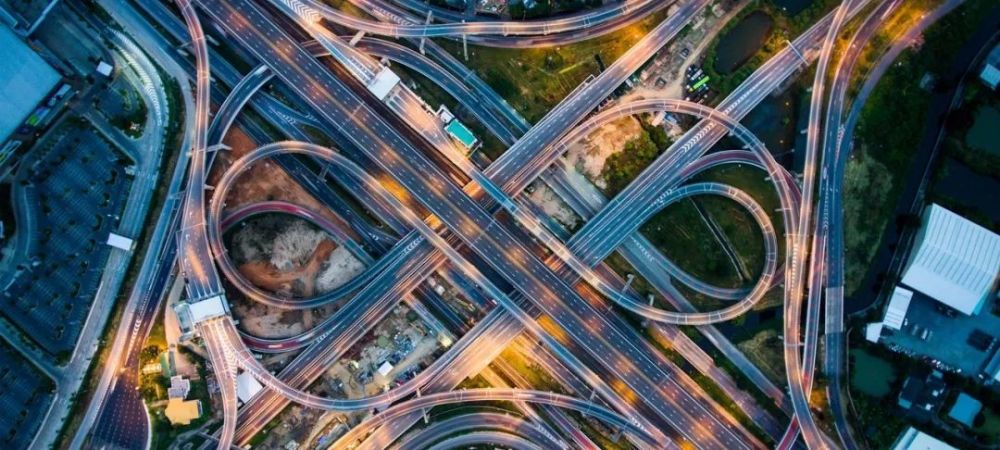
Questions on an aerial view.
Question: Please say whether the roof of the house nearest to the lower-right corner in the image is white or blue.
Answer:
blue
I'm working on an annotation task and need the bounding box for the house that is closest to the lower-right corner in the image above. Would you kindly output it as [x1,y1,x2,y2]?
[945,391,981,426]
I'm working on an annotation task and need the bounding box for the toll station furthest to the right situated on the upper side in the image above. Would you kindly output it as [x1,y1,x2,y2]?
[365,64,404,107]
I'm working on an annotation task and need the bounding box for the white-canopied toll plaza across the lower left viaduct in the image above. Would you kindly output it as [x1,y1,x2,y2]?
[190,288,231,327]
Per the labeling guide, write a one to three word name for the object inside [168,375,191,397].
house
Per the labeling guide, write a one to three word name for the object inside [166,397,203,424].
house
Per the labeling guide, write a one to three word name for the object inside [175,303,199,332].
building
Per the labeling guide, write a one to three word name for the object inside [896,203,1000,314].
building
